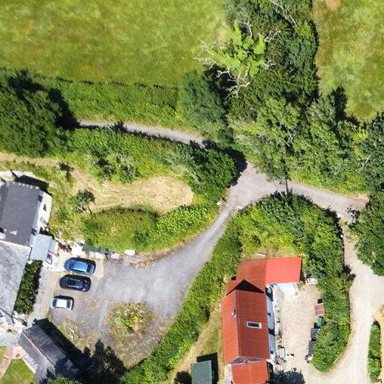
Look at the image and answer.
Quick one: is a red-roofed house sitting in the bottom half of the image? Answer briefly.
Yes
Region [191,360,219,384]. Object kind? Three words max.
shed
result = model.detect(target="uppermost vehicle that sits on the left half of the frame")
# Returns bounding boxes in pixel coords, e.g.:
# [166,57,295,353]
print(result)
[65,259,97,274]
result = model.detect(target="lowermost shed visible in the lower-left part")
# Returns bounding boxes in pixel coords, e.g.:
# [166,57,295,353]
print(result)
[18,323,96,384]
